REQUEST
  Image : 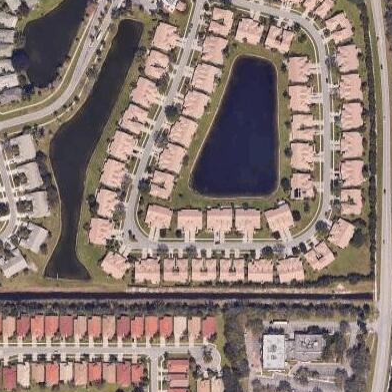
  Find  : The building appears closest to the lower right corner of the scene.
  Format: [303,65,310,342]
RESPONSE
[263,334,324,370]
